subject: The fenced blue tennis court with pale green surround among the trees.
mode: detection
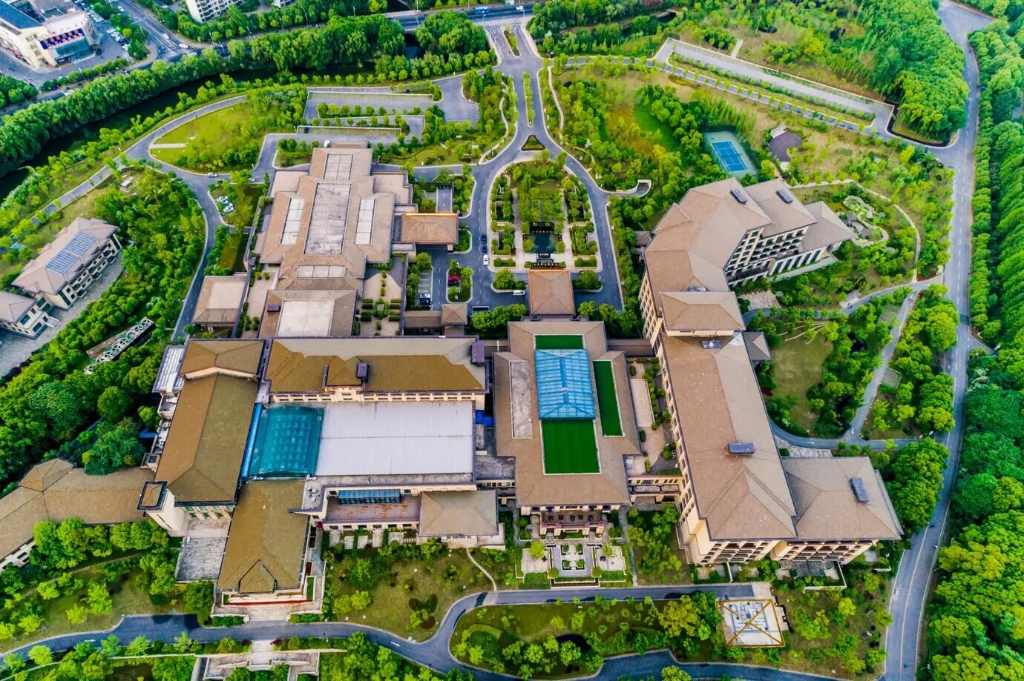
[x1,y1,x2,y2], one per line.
[705,124,761,178]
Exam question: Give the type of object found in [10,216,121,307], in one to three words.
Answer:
house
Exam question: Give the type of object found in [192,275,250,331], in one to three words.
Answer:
building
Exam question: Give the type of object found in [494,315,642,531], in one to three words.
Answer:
building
